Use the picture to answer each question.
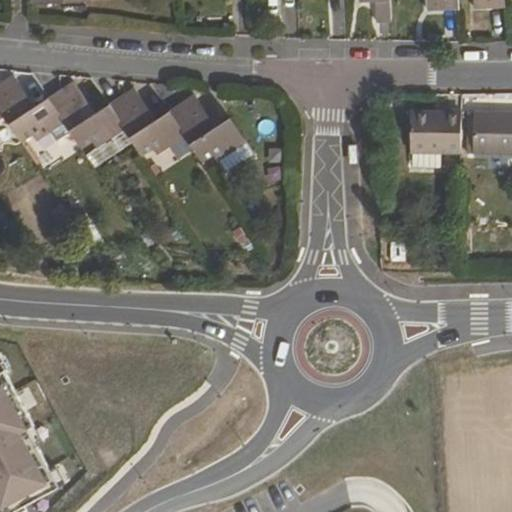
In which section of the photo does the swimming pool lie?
top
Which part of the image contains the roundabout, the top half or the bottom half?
bottom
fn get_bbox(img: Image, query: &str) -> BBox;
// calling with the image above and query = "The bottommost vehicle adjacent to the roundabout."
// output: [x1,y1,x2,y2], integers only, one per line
[276,342,289,367]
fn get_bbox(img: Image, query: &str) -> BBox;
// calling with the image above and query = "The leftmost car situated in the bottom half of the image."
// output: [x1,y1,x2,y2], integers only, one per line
[204,323,224,336]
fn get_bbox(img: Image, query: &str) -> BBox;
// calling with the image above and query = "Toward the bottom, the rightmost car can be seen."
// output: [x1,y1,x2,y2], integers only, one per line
[436,330,460,342]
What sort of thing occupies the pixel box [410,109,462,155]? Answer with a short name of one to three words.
house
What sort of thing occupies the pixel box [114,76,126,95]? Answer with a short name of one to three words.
vehicle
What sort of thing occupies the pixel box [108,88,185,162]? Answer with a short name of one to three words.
house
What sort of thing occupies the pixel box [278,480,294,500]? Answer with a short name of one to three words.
car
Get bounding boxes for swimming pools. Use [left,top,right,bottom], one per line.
[256,118,276,140]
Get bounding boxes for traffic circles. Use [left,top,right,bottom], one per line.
[292,306,372,387]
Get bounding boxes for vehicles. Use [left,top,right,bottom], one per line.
[464,50,488,62]
[315,291,338,302]
[492,12,504,35]
[350,48,370,58]
[231,500,244,512]
[196,46,216,56]
[98,77,115,98]
[244,496,260,512]
[268,484,284,508]
[276,342,289,367]
[147,42,168,52]
[436,330,460,342]
[278,480,294,500]
[114,76,126,95]
[64,4,85,14]
[118,40,142,50]
[204,323,224,336]
[396,46,418,56]
[93,38,114,48]
[446,10,456,30]
[286,0,294,8]
[170,43,192,54]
